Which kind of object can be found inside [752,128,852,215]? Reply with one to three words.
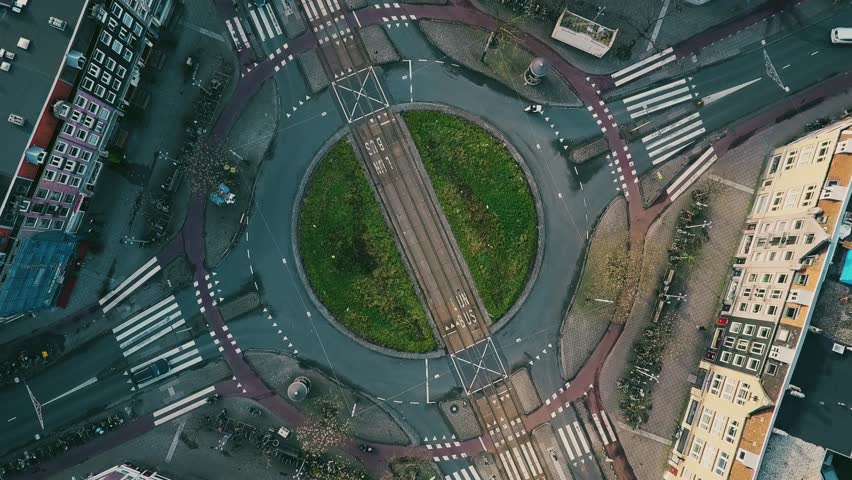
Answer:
house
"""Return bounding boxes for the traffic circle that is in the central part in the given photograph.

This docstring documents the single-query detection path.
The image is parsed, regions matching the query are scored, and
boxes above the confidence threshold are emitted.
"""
[251,63,587,399]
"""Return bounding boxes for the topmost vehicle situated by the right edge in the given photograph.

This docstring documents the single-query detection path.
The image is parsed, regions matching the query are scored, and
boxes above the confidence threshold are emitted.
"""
[829,23,852,45]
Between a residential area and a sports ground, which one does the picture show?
residential area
